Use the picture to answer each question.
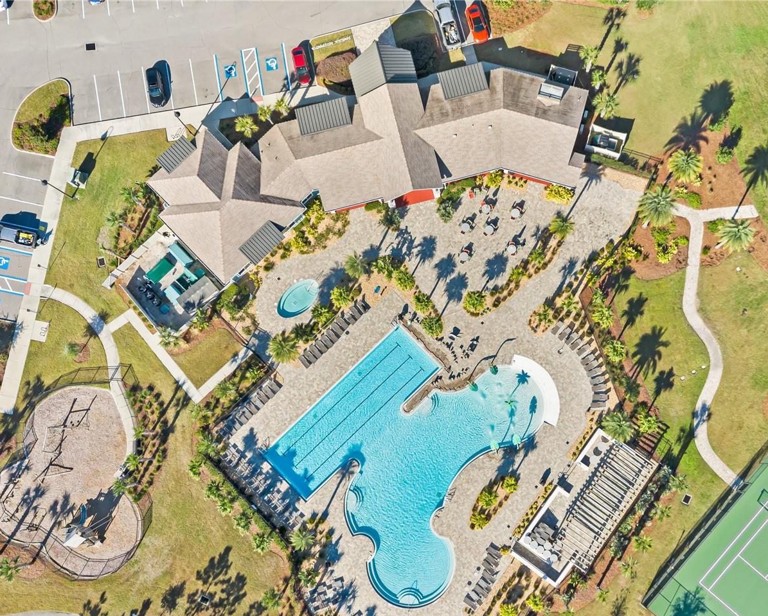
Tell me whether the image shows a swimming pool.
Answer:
Yes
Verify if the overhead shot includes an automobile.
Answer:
Yes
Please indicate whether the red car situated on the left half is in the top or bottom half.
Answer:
top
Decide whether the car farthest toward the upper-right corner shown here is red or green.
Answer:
red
